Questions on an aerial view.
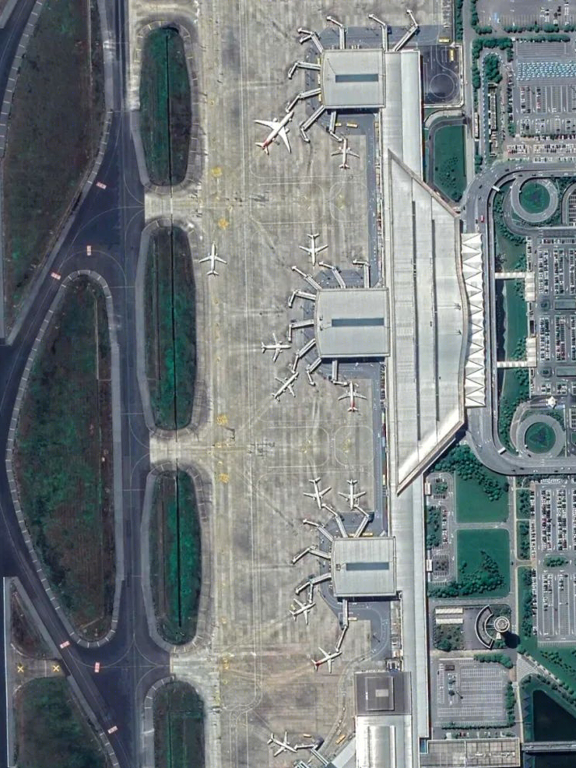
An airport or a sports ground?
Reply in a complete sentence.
What you see here is an airport.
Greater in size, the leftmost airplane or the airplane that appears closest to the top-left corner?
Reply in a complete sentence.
Of the two, the airplane that appears closest to the top-left corner is larger and the leftmost airplane is the smaller one.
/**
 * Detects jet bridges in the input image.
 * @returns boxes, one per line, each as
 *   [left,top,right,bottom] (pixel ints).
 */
[353,503,370,537]
[293,574,332,604]
[394,7,419,49]
[351,259,368,287]
[302,519,333,541]
[320,502,346,537]
[326,14,344,49]
[318,259,345,288]
[291,339,316,374]
[300,105,325,143]
[295,27,323,52]
[284,87,320,113]
[290,265,323,288]
[334,598,347,652]
[287,289,316,308]
[286,61,320,78]
[287,321,313,343]
[367,11,386,49]
[328,109,343,142]
[304,358,323,387]
[291,546,332,564]
[332,358,349,386]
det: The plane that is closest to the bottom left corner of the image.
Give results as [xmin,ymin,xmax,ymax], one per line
[268,734,295,758]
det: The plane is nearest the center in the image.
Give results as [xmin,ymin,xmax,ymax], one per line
[270,372,298,400]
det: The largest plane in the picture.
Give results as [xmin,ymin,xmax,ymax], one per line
[253,112,292,155]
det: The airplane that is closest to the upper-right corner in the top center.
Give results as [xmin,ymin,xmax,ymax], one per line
[330,137,359,168]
